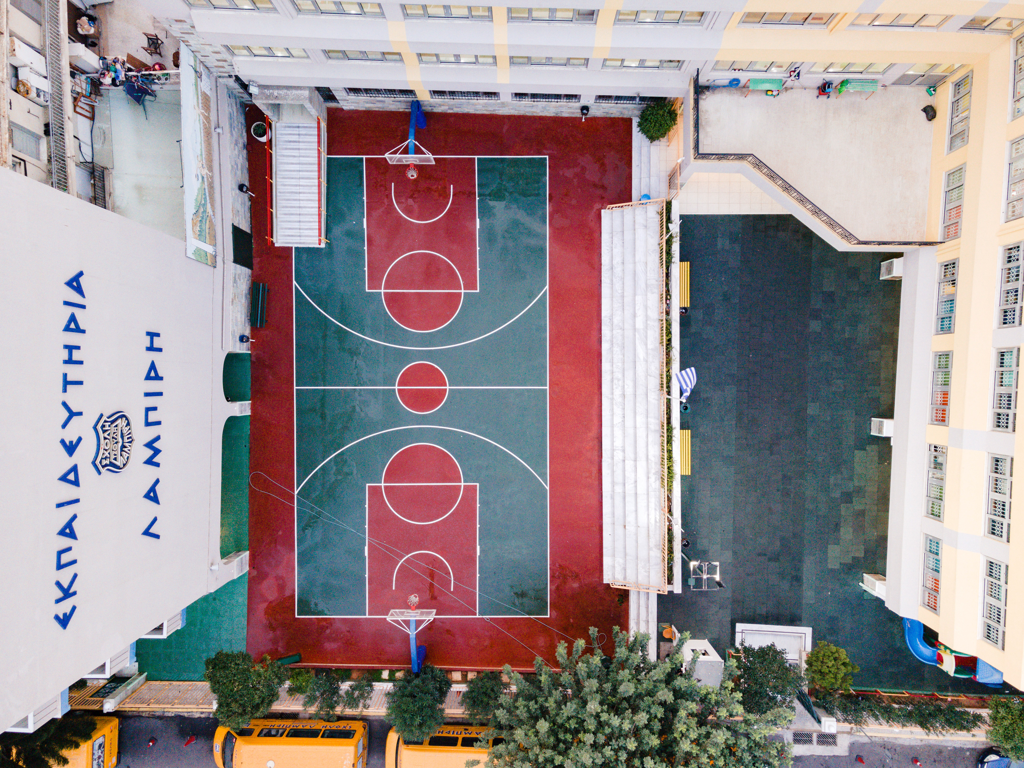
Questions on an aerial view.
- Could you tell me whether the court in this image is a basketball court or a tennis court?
basketball court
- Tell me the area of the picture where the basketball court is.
center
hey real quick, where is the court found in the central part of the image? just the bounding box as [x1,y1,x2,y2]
[247,106,631,669]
